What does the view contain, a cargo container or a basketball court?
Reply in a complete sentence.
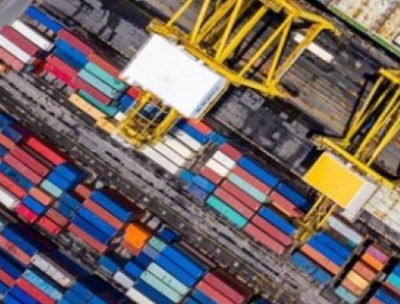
The one in the frame is a cargo container.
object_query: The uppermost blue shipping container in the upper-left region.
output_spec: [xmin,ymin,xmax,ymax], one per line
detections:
[25,6,62,38]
